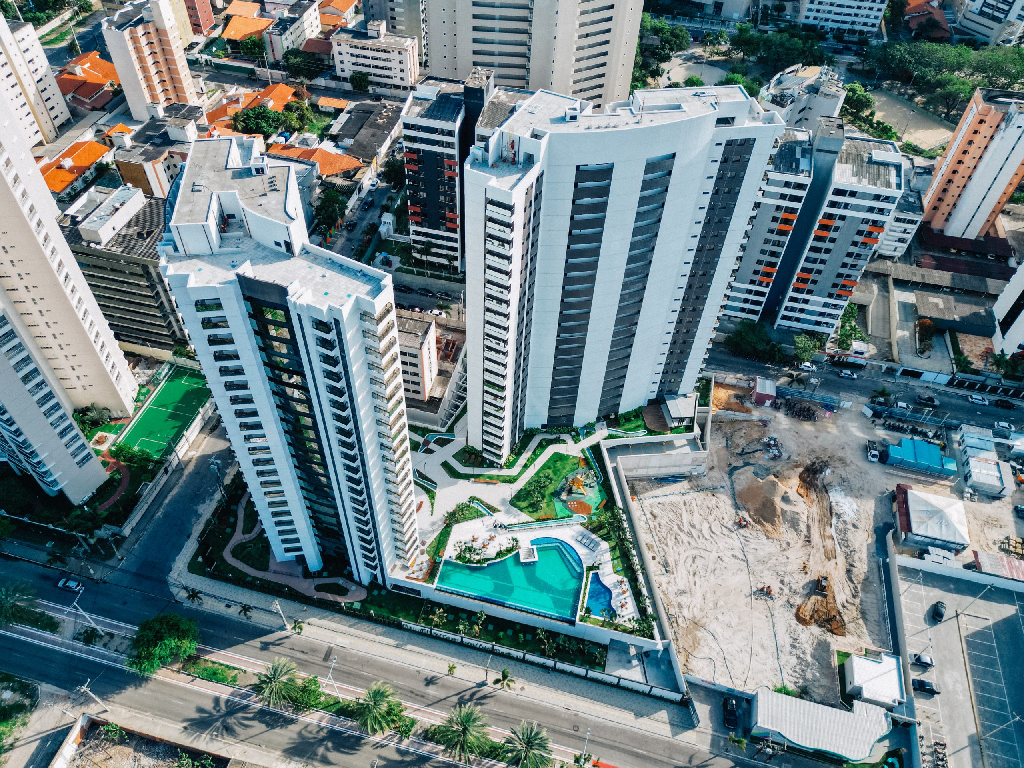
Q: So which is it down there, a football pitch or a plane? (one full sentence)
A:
The one in the frame is a football pitch.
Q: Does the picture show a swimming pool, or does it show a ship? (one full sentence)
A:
Visible in the photo is a swimming pool.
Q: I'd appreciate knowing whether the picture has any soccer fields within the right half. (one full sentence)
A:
No, I can find no soccer field within the right half.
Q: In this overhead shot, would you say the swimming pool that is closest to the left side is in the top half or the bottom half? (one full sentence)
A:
It is in the bottom half that the swimming pool that is closest to the left side appears.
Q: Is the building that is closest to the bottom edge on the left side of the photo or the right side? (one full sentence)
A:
The building that is closest to the bottom edge appears in the right half of the scene.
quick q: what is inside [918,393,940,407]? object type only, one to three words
car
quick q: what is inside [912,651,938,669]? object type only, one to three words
car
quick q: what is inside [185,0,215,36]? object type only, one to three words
building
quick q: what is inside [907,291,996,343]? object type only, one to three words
shed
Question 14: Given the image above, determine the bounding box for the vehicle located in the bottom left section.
[54,576,83,593]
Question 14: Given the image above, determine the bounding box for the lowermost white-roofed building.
[749,689,891,768]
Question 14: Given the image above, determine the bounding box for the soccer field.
[119,365,211,462]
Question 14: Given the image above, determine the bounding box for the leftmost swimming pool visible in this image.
[436,537,585,620]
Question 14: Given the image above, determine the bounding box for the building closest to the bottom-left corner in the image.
[0,292,108,506]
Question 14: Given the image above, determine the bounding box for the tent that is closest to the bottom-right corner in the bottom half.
[906,491,969,551]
